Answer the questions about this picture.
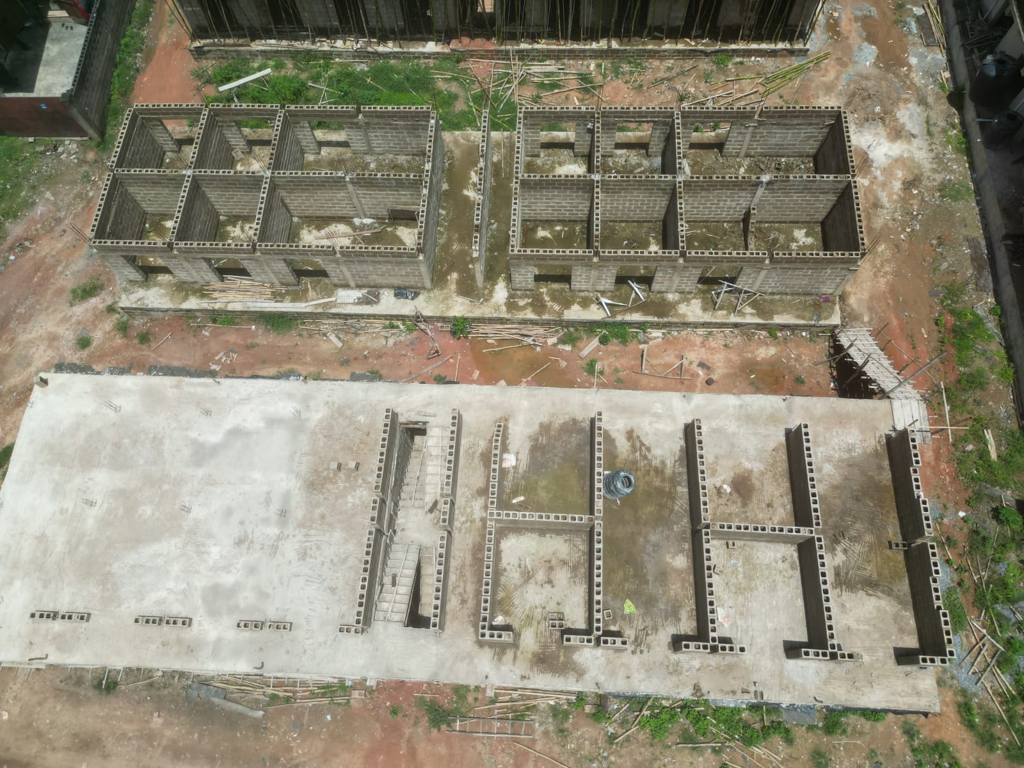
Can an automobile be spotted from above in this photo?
No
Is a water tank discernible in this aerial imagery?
Yes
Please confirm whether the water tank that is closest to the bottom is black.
Yes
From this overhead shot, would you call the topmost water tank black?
Yes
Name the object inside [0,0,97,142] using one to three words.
house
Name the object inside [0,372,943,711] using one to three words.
building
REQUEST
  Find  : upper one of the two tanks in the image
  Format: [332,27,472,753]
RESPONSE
[972,58,1023,110]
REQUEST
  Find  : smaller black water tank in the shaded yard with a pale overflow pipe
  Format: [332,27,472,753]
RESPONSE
[982,113,1024,153]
